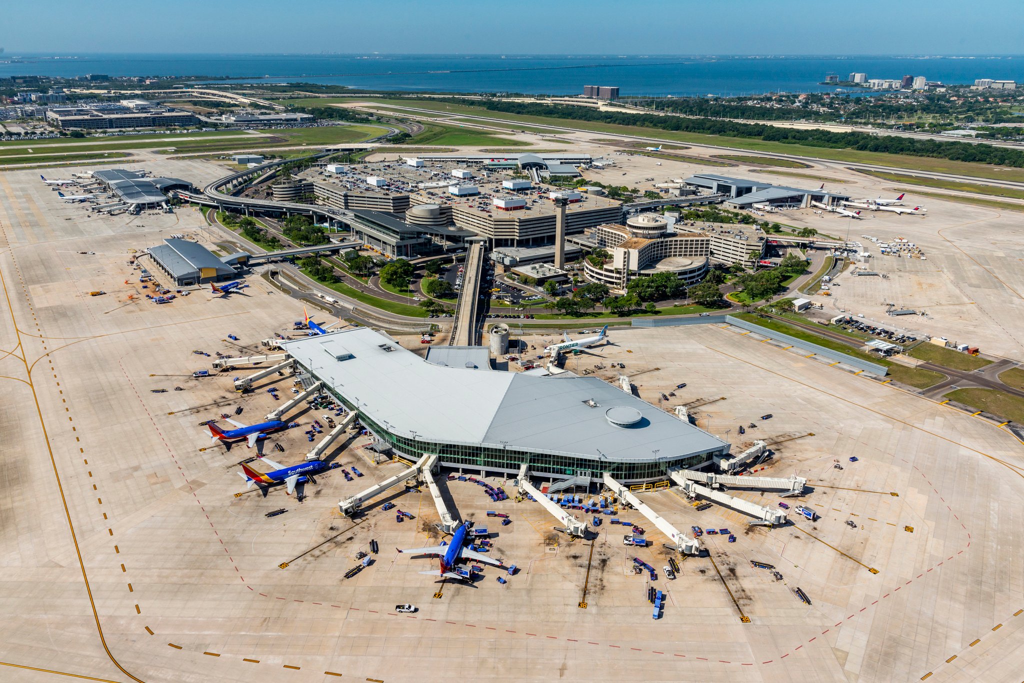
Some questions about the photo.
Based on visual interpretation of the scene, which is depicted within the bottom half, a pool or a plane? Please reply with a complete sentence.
What appears within the bottom half is a plane.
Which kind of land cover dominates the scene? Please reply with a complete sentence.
What you mostly see from above here is paved ground.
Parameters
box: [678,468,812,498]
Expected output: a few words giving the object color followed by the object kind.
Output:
white jet bridge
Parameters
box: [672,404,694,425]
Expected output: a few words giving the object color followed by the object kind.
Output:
white jet bridge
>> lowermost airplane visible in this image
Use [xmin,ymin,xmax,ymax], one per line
[397,523,501,578]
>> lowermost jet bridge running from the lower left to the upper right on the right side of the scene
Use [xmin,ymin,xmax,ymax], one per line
[713,438,767,474]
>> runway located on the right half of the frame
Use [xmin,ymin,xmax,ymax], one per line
[341,102,1024,188]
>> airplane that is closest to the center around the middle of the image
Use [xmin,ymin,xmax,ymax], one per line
[545,325,613,354]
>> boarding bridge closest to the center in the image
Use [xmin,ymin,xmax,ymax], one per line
[544,345,563,375]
